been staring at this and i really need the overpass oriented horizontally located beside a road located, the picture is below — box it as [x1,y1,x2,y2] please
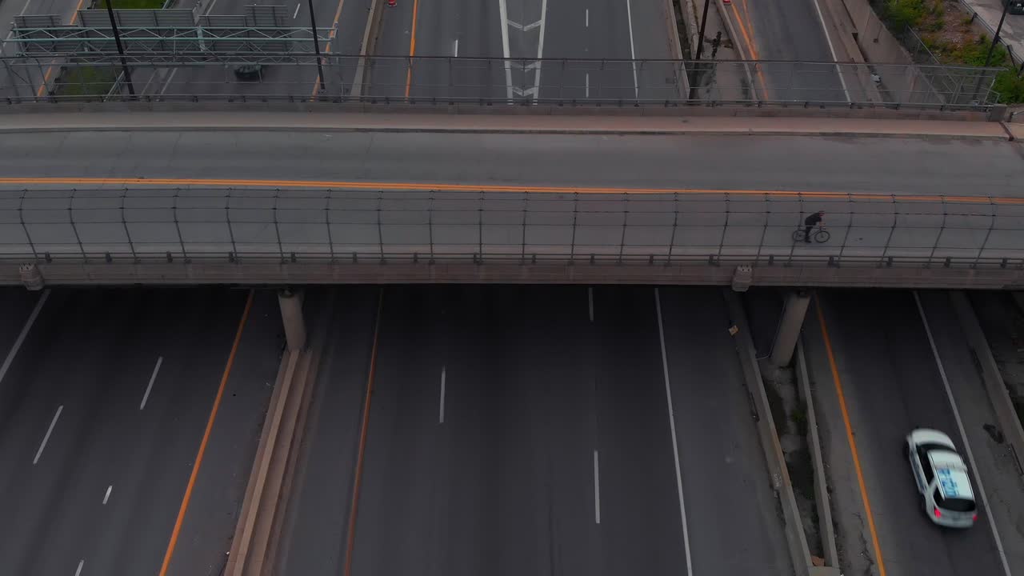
[0,101,1024,368]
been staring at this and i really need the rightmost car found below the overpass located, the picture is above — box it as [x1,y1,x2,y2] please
[907,428,983,528]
